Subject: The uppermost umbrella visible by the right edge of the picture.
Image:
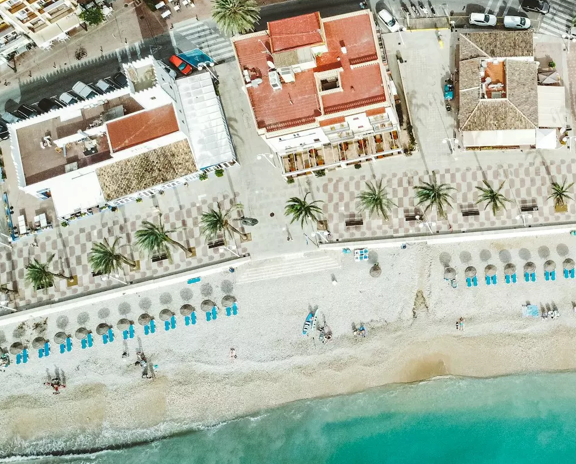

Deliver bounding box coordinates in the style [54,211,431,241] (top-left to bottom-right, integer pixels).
[538,69,558,86]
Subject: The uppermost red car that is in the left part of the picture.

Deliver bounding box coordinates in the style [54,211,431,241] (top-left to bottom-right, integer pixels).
[170,54,192,75]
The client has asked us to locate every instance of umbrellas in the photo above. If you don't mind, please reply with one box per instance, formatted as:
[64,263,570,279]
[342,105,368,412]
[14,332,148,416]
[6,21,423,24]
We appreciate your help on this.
[223,294,236,307]
[0,346,8,358]
[368,263,383,278]
[484,264,497,277]
[464,267,477,278]
[503,263,516,276]
[15,342,27,355]
[444,267,457,280]
[544,260,556,272]
[141,313,153,326]
[524,261,536,273]
[538,69,558,86]
[563,258,575,270]
[97,322,111,336]
[161,308,174,321]
[182,304,194,316]
[203,300,215,312]
[537,129,556,148]
[118,318,132,330]
[76,327,89,339]
[55,331,68,345]
[35,337,47,349]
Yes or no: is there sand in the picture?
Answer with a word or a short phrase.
Yes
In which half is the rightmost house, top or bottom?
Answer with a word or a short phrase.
top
